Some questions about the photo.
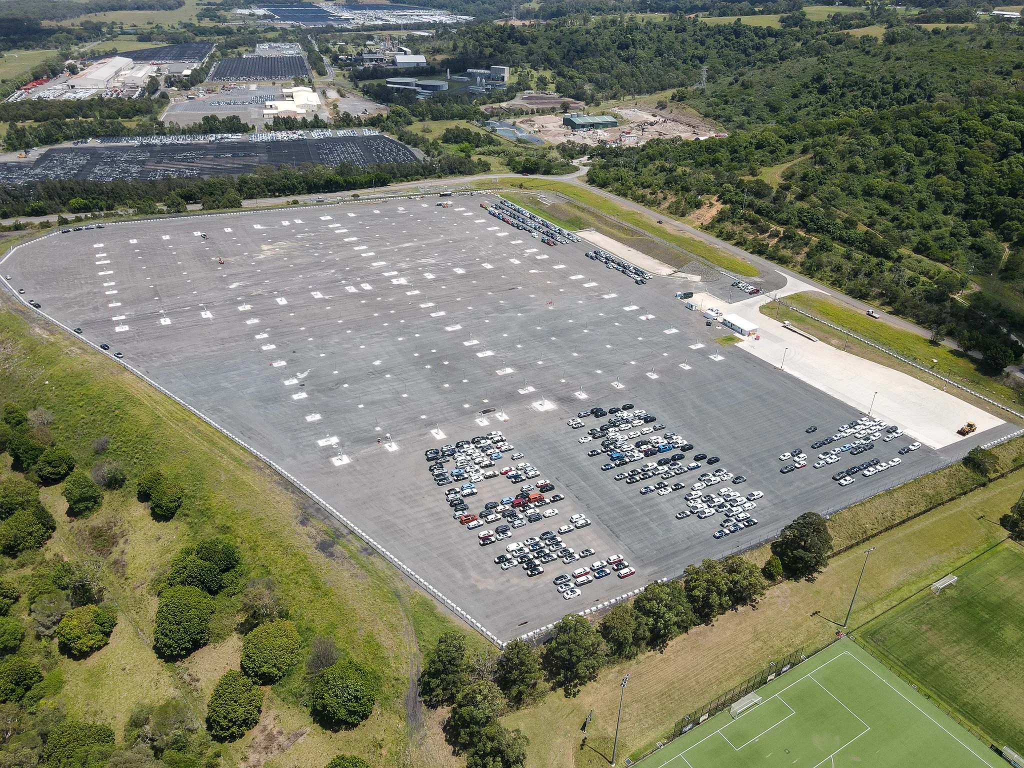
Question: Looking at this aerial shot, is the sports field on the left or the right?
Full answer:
It is on the right.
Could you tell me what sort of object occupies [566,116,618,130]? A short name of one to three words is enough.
shed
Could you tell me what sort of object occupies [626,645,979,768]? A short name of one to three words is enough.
sports field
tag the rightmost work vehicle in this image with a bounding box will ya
[958,422,977,435]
